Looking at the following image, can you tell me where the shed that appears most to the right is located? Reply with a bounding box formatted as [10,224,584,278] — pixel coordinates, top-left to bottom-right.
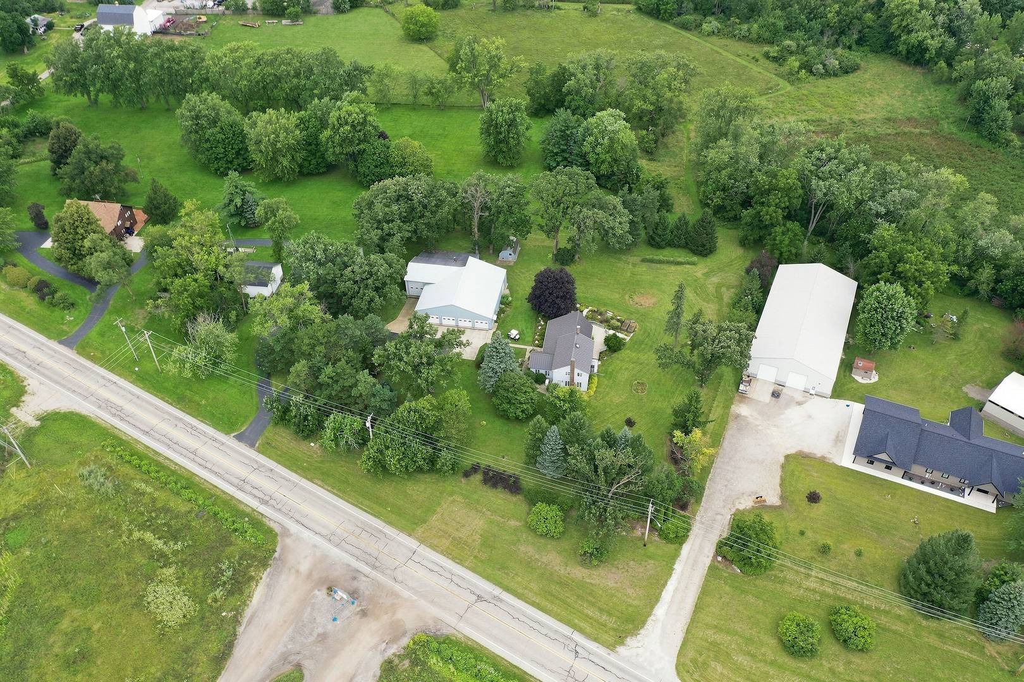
[982,376,1024,431]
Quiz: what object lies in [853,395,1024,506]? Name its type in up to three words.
house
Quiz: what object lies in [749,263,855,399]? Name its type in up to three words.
barn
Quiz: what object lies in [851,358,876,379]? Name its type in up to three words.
shed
